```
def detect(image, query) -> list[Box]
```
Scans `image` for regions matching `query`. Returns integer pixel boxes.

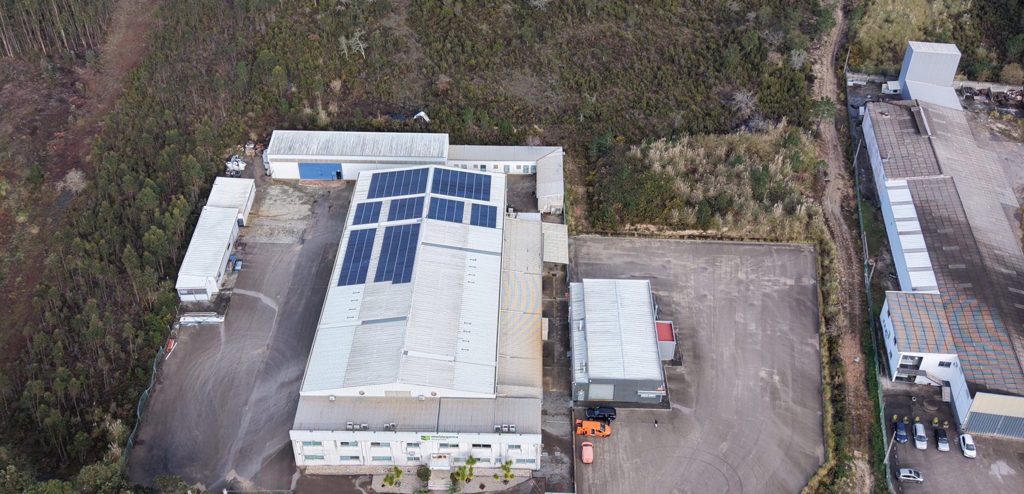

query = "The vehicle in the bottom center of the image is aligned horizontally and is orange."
[578,419,611,437]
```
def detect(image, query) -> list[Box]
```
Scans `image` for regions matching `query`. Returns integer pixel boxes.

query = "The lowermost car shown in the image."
[894,468,925,483]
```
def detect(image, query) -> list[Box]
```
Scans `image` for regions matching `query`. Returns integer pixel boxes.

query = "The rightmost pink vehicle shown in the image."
[580,442,594,464]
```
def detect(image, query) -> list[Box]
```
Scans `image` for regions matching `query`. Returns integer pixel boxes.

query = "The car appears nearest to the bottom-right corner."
[959,434,977,458]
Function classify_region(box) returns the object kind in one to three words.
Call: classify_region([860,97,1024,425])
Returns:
building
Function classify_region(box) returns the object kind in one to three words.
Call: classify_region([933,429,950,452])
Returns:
car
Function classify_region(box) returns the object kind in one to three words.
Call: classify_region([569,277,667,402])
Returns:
building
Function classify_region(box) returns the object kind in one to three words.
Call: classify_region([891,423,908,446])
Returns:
car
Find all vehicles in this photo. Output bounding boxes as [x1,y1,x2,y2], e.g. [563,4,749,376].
[891,423,908,446]
[580,442,594,464]
[578,419,611,437]
[894,468,925,483]
[959,434,977,458]
[911,425,928,450]
[933,429,950,452]
[586,407,616,422]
